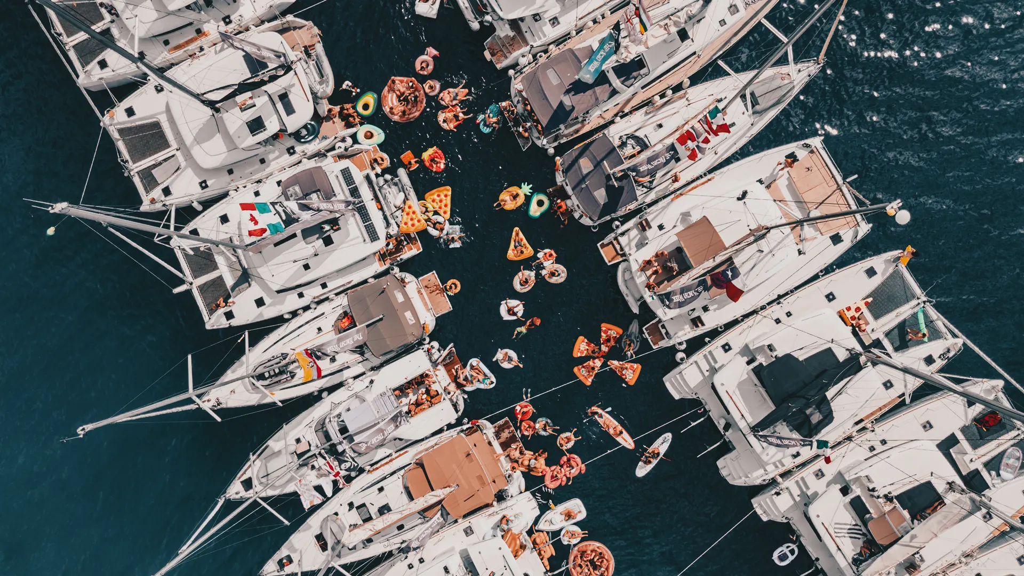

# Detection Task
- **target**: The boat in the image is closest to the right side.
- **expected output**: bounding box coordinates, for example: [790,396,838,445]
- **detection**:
[1002,444,1023,481]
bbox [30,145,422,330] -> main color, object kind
white boat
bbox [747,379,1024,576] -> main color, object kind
white boat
